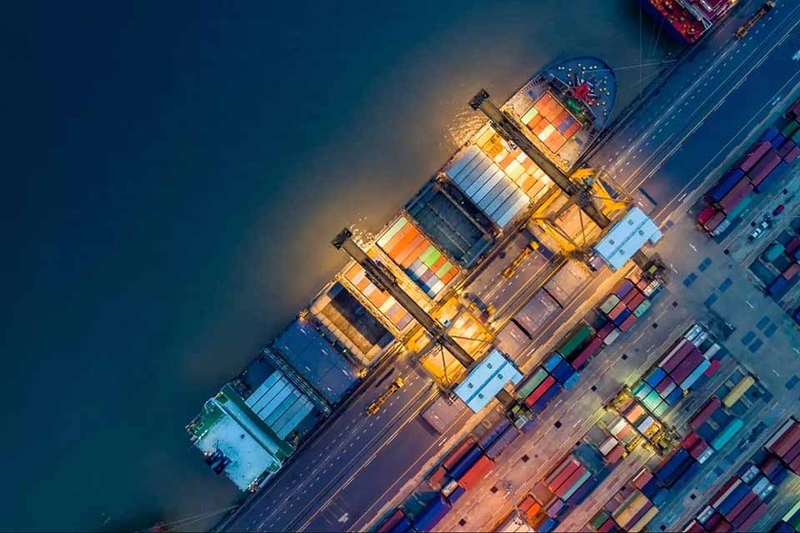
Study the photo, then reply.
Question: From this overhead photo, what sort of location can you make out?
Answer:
port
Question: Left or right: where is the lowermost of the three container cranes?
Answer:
right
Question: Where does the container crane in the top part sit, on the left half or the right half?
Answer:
right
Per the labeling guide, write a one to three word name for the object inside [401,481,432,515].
shipping container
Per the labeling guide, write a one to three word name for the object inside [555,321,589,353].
shipping container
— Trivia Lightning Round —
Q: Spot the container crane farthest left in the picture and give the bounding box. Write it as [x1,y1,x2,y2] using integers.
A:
[334,231,538,428]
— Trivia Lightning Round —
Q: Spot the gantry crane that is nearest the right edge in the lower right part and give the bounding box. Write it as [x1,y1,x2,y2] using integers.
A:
[592,377,688,463]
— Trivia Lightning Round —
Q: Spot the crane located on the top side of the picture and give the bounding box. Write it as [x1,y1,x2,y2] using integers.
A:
[473,87,677,285]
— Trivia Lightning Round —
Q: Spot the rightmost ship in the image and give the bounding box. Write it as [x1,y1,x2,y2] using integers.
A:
[631,0,734,45]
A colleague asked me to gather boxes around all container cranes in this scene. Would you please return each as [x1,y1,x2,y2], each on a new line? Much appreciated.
[334,231,538,428]
[473,87,677,285]
[592,377,688,463]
